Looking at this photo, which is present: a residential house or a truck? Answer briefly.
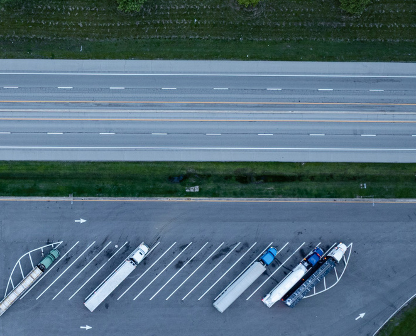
truck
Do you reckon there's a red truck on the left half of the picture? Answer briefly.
No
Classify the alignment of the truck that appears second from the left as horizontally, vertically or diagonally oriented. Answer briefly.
diagonally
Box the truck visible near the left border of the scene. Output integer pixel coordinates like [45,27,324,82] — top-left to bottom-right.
[0,248,60,316]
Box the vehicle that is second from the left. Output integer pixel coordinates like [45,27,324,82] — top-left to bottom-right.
[84,242,148,311]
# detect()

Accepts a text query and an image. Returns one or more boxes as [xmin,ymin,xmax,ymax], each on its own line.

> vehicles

[262,245,323,308]
[84,242,148,311]
[0,248,60,316]
[282,242,345,308]
[211,246,276,312]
